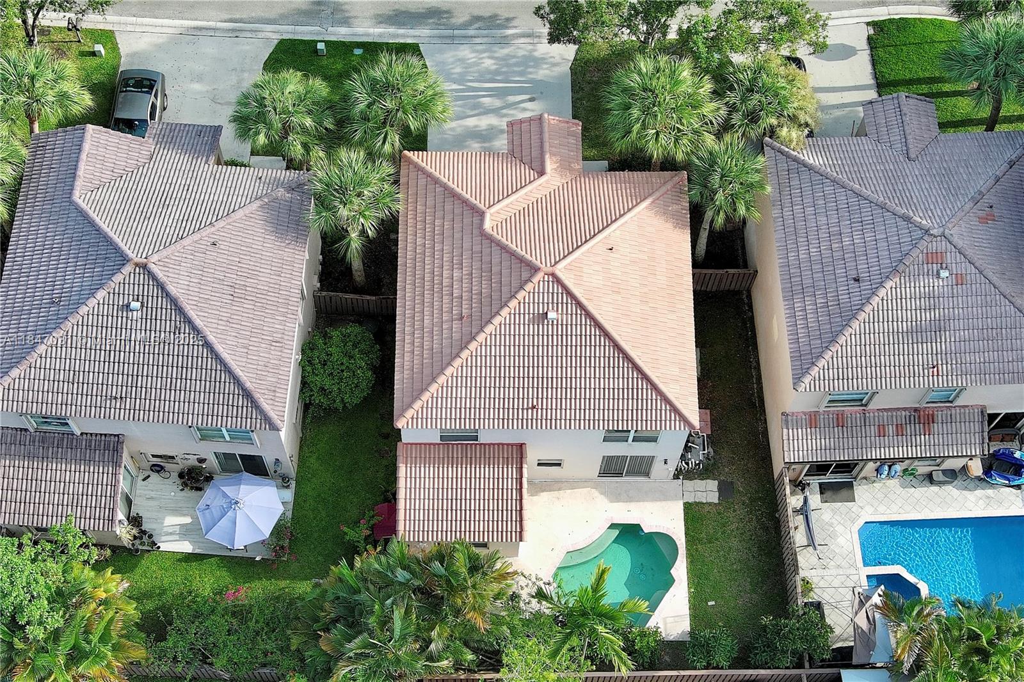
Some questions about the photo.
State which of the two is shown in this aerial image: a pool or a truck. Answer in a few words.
pool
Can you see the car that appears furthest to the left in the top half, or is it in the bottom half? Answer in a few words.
top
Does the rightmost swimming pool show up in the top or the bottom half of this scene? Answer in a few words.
bottom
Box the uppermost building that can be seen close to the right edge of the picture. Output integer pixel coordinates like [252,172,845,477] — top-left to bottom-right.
[746,91,1024,489]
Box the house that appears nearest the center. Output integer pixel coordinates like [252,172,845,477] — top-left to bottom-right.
[393,110,702,556]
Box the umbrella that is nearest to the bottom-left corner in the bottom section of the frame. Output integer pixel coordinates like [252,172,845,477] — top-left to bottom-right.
[199,472,281,550]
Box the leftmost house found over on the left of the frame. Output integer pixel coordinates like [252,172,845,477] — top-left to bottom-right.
[0,122,322,543]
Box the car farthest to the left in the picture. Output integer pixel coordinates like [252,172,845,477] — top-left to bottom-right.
[114,70,166,136]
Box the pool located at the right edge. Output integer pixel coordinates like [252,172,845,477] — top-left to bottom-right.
[851,508,1024,652]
